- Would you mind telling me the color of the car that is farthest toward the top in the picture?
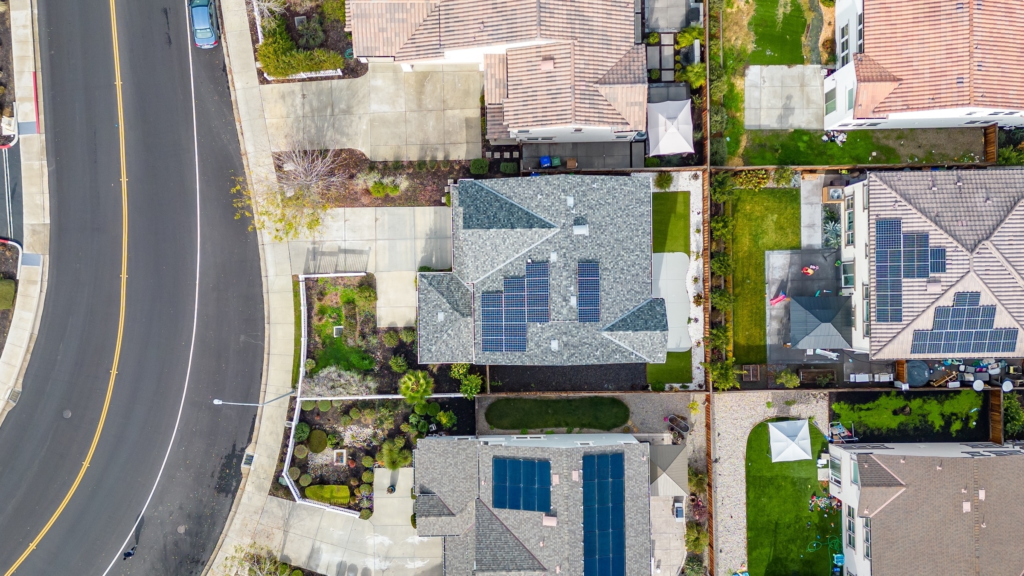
blue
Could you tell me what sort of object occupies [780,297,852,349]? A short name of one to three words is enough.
gazebo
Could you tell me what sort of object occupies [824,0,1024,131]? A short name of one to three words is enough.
house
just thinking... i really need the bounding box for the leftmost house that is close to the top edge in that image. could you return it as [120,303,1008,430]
[343,0,649,145]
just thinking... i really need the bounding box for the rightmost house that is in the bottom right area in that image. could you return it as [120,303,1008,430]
[829,443,1024,576]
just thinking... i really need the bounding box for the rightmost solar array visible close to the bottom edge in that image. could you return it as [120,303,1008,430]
[582,452,623,576]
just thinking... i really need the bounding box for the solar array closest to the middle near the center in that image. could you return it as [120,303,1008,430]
[481,264,550,352]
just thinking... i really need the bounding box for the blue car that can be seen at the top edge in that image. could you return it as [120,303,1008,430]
[188,0,221,50]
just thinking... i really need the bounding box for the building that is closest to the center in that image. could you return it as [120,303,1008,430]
[416,173,670,367]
